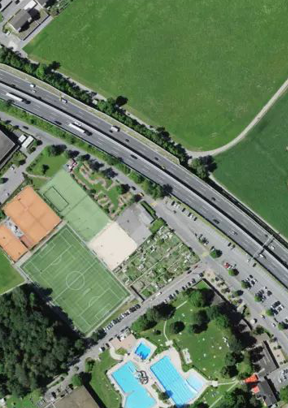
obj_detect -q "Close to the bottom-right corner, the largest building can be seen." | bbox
[253,343,277,375]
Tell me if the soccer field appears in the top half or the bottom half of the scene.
bottom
